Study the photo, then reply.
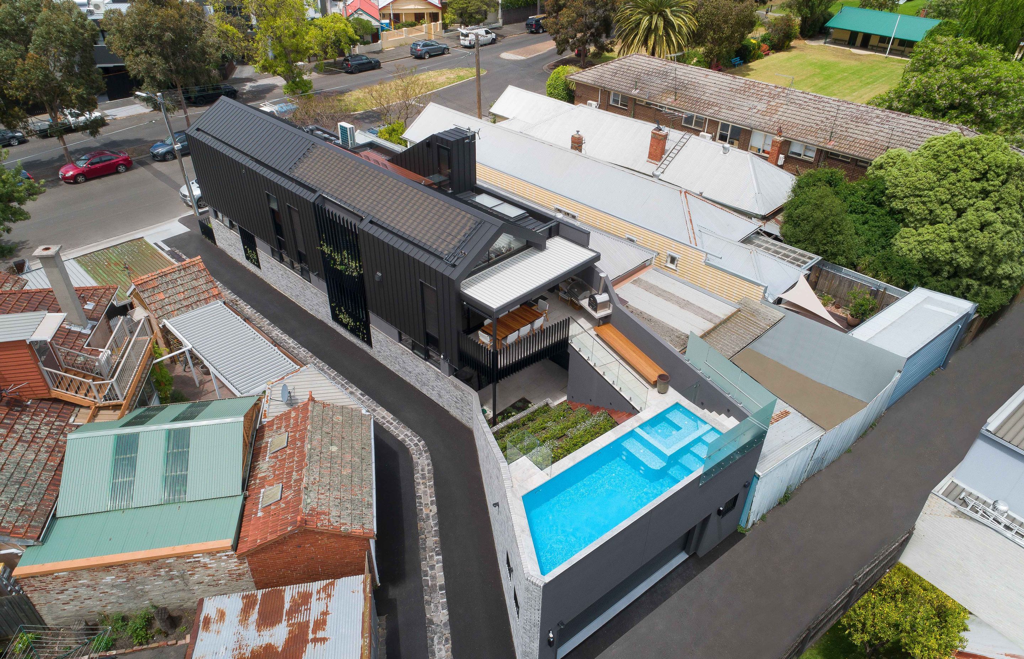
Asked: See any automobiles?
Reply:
Yes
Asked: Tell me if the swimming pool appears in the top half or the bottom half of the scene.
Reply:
bottom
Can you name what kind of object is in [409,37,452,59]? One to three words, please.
car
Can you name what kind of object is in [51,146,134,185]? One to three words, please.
car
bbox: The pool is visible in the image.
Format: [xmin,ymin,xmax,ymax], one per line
[522,404,737,516]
